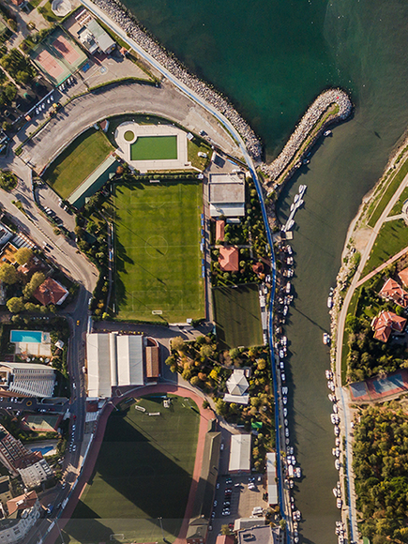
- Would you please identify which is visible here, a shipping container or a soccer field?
soccer field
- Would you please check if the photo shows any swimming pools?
Yes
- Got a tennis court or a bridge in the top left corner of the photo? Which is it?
tennis court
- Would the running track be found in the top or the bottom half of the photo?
bottom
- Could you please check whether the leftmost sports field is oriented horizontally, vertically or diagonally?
diagonally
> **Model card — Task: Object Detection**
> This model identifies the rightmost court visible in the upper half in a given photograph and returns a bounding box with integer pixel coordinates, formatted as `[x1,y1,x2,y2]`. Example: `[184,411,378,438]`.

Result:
[82,56,125,85]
